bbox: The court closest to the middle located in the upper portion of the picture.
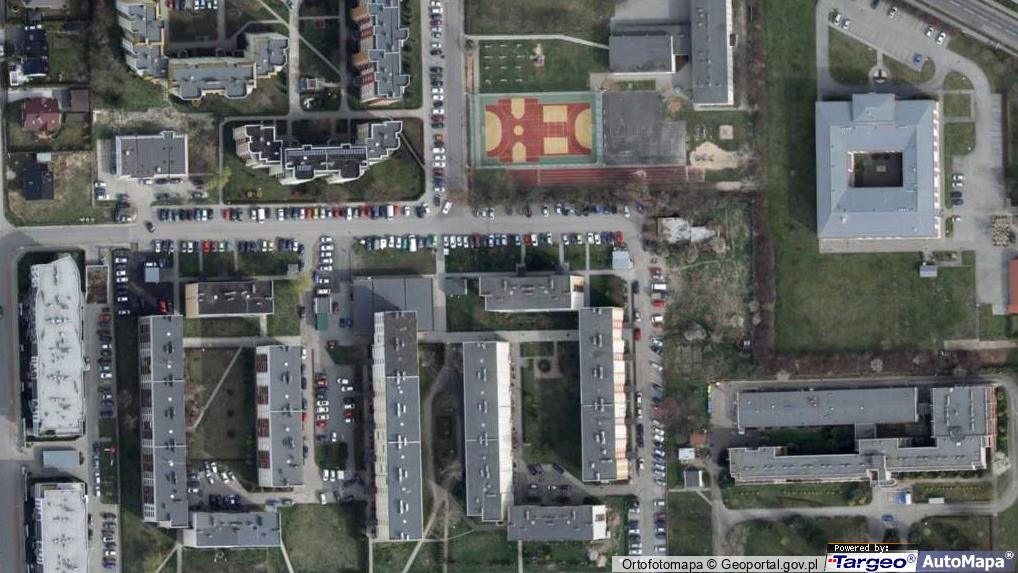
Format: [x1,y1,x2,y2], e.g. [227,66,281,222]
[471,90,602,169]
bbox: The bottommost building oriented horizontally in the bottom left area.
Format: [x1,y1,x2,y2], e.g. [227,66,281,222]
[185,512,281,549]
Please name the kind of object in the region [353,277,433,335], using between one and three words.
building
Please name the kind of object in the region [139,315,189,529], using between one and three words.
building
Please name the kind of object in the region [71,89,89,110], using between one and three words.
house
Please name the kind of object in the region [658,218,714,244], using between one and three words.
house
